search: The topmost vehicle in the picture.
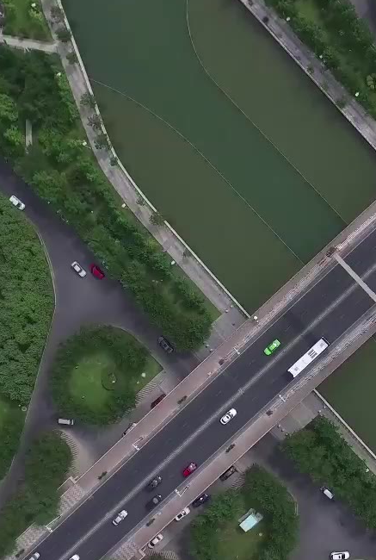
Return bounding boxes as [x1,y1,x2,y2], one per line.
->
[9,194,27,211]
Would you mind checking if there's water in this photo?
Yes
